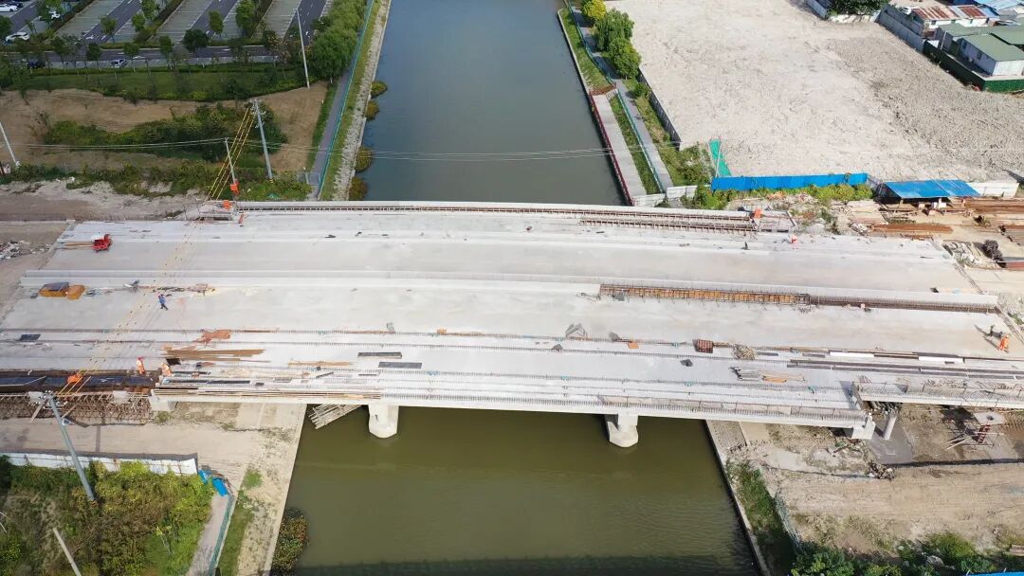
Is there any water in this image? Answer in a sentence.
Yes, the picture does contain water.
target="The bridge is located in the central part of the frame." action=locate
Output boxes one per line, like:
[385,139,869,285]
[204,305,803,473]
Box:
[0,197,1024,447]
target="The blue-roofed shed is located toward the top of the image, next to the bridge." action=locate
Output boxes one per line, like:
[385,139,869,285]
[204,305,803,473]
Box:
[880,179,981,211]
